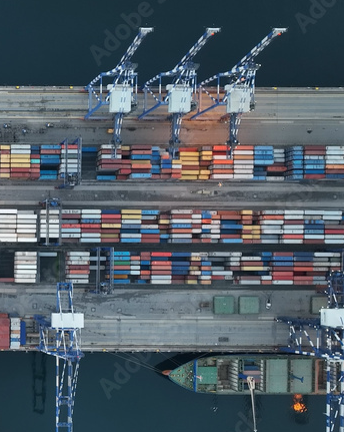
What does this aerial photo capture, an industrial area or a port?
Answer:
port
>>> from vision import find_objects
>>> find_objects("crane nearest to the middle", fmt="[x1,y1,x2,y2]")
[87,247,117,292]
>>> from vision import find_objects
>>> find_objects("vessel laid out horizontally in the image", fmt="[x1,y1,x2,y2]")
[112,350,342,432]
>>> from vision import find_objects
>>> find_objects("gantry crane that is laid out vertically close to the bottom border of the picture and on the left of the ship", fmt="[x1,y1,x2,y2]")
[30,282,87,432]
